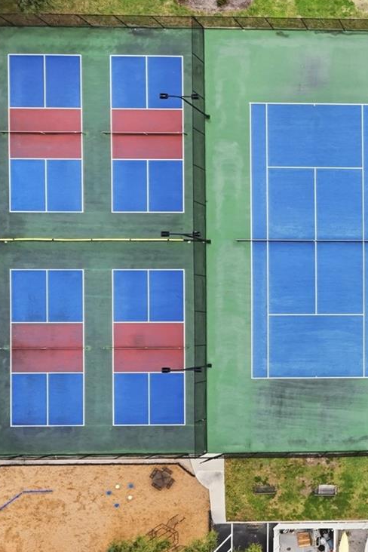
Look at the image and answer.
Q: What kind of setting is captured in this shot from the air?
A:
sports ground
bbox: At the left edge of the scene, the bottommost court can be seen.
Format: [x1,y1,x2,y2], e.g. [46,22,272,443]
[9,269,84,427]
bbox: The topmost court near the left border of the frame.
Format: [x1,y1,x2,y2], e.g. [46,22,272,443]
[8,54,83,212]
